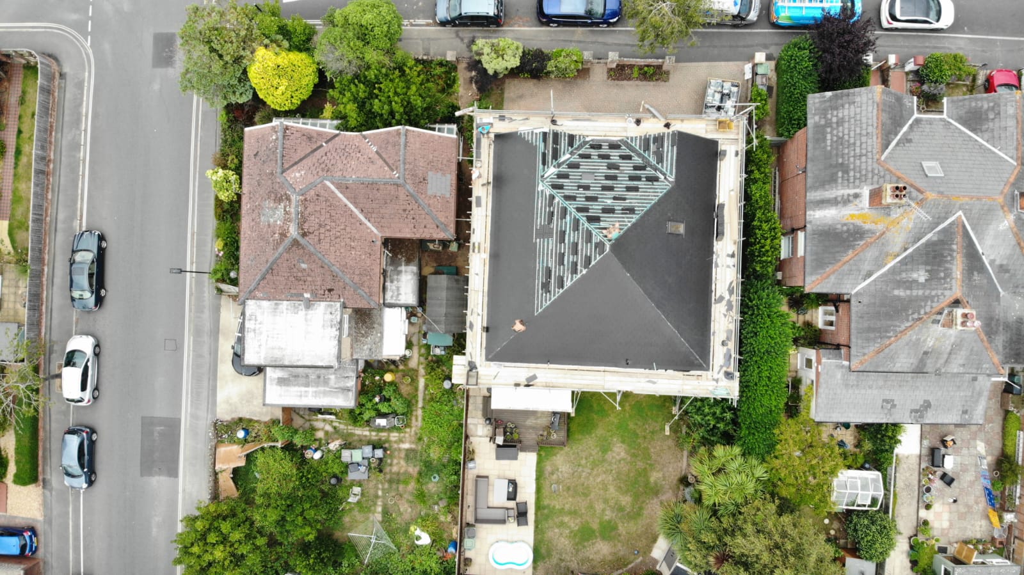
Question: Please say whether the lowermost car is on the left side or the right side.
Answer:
left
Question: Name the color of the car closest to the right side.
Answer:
red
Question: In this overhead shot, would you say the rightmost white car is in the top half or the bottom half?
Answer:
top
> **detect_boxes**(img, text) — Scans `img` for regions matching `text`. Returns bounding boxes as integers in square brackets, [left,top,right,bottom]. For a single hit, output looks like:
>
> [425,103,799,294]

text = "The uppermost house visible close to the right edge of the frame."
[778,86,1024,425]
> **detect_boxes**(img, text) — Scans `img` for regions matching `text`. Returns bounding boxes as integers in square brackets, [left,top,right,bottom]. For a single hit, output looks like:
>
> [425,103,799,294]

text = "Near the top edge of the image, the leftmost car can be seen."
[436,0,506,29]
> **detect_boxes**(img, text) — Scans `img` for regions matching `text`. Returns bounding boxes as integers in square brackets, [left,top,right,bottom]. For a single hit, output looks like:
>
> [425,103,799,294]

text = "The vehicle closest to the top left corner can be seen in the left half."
[66,230,110,312]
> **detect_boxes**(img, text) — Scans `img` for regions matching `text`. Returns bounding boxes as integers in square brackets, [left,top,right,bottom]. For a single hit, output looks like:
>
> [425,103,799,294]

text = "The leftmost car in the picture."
[0,525,40,559]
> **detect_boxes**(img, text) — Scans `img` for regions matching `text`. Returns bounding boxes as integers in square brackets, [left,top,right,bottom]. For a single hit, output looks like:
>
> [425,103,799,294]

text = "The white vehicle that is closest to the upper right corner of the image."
[878,0,952,31]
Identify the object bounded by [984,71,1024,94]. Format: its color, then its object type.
red car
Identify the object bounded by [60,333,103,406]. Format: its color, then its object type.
white car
